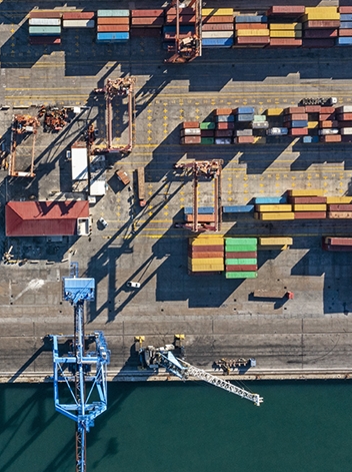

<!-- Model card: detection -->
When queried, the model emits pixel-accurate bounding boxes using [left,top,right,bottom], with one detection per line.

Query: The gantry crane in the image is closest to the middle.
[171,157,221,229]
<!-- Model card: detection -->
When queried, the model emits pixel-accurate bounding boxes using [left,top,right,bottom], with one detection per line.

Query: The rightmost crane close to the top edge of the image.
[160,0,207,66]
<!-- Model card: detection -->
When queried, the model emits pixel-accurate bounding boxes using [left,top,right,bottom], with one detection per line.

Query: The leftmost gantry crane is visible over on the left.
[1,113,40,181]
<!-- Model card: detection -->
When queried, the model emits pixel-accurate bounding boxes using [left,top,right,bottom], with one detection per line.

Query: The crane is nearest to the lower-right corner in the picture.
[136,335,263,405]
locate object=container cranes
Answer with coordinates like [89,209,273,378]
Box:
[91,74,135,153]
[1,113,40,181]
[171,157,221,229]
[50,252,112,472]
[160,0,207,66]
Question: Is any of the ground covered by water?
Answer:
Yes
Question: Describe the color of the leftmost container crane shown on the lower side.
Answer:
blue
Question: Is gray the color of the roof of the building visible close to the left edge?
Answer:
No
